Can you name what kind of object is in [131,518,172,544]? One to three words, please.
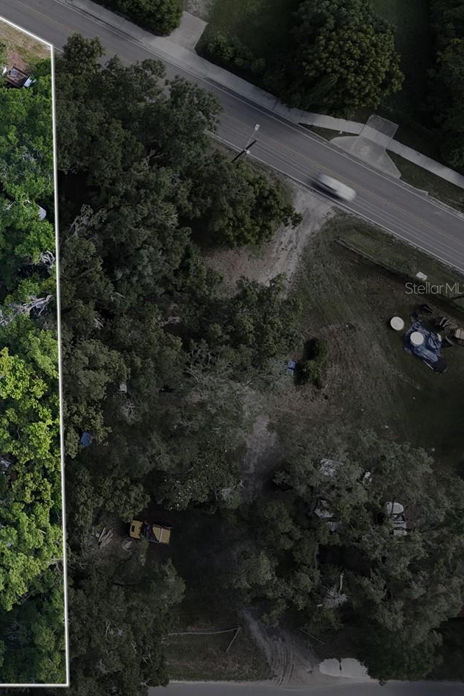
work vehicle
